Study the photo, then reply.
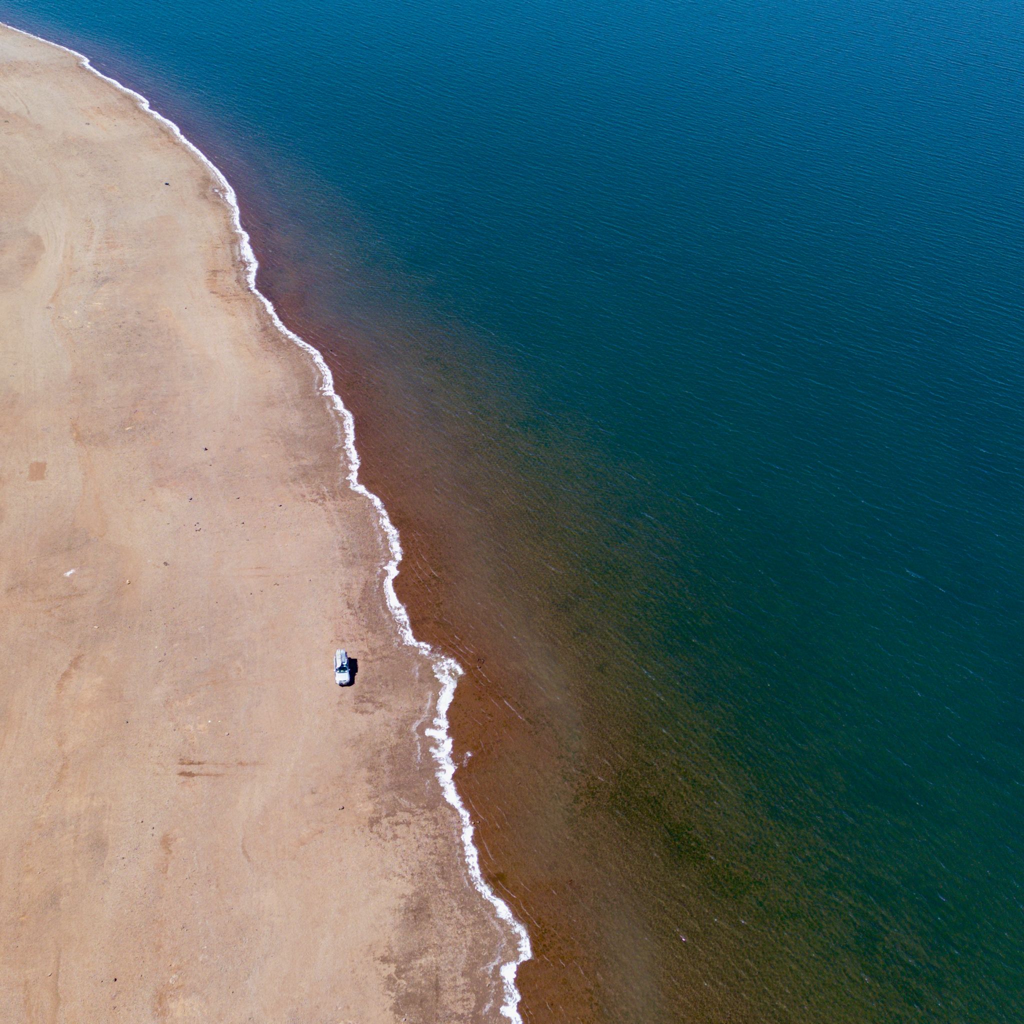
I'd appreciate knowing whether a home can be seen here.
No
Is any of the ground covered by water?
Yes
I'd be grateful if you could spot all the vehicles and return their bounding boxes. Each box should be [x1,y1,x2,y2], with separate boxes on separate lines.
[334,650,351,686]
